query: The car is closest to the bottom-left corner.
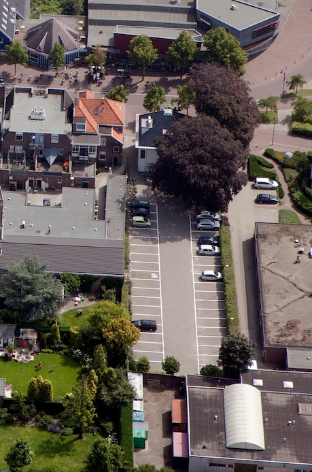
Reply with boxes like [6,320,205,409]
[131,318,157,331]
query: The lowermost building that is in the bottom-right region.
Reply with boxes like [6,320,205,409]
[185,369,312,472]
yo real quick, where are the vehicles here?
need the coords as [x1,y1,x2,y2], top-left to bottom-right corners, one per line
[195,219,218,231]
[201,270,224,282]
[253,177,277,190]
[127,197,151,209]
[197,234,220,245]
[198,244,221,256]
[256,194,279,206]
[131,318,157,331]
[129,207,152,217]
[130,216,153,227]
